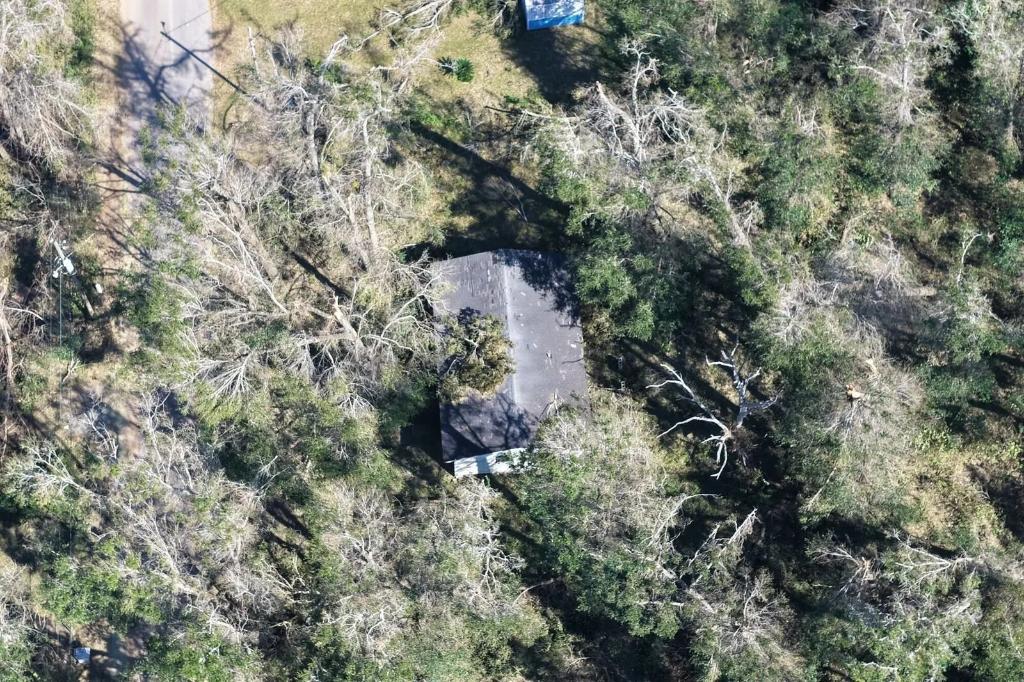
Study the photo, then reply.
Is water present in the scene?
No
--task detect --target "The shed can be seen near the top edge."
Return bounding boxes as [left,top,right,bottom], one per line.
[522,0,586,33]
